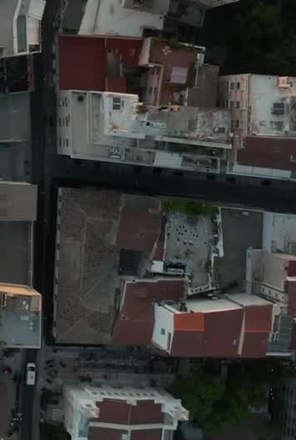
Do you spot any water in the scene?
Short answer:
No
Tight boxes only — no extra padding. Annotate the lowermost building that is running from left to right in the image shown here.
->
[58,379,190,440]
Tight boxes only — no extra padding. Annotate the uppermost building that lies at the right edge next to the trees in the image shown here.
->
[218,74,296,137]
